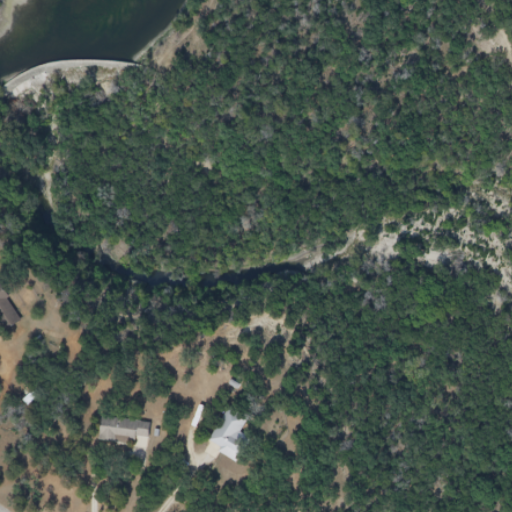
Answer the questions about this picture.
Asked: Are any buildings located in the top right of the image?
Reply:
No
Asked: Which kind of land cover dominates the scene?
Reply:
trees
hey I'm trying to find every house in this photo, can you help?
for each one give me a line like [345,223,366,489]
[98,419,151,444]
[0,288,20,324]
[212,410,246,462]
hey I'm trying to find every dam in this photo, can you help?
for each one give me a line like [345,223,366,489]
[4,60,140,99]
